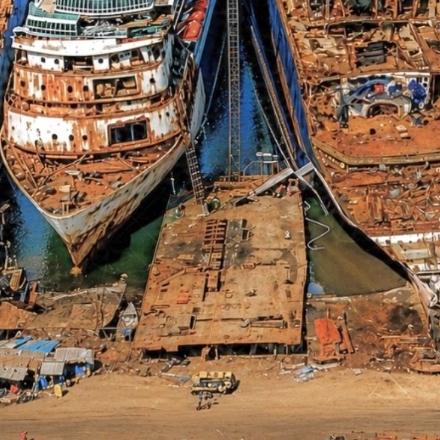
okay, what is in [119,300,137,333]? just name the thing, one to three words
boat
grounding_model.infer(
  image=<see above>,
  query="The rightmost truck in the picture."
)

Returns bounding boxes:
[191,362,236,393]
